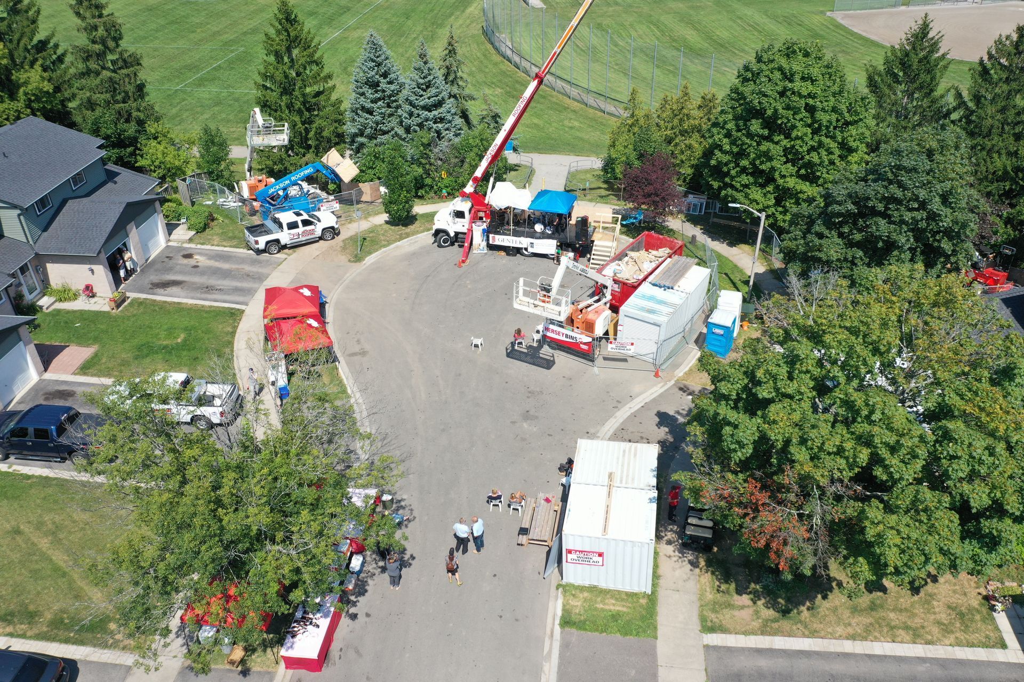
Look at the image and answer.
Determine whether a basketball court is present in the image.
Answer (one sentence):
No, I find no basketball court anywhere in the image.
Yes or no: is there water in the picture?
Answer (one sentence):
No, there's no water in this view.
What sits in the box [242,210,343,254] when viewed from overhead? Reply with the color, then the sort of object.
white truck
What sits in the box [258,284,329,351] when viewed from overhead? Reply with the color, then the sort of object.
red tent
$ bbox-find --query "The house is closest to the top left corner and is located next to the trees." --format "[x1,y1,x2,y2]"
[0,114,178,318]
